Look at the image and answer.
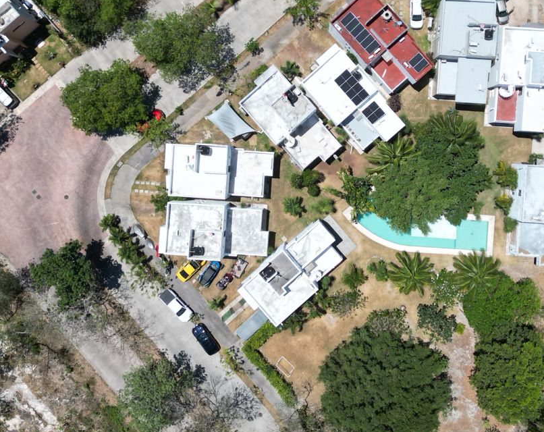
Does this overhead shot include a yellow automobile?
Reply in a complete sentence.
Yes, there's a yellow automobile down there.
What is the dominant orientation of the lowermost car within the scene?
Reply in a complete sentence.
What the image shows is the lowermost car lying on a diagonal.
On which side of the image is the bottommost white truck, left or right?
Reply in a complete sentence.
You can find the bottommost white truck on the left side of the picture.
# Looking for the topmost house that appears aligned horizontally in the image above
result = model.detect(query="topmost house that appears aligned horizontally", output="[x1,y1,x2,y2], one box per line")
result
[164,143,275,199]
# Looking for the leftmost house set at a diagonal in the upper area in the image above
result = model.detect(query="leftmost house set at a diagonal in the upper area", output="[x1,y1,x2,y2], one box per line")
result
[239,65,342,171]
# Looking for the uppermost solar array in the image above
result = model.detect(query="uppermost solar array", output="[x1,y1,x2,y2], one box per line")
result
[341,13,380,54]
